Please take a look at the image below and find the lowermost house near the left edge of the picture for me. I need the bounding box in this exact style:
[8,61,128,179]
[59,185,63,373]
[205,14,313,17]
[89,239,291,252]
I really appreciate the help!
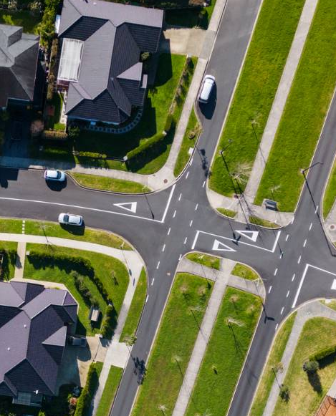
[0,280,79,396]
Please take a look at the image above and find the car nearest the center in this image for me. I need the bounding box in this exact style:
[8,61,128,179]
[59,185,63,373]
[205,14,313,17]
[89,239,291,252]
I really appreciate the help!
[57,214,85,226]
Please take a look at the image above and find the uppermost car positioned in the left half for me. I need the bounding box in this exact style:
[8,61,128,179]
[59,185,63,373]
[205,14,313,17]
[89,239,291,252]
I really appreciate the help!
[42,170,67,182]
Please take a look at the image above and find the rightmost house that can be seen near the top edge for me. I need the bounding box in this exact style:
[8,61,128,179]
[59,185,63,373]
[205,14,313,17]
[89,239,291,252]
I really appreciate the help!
[57,0,165,126]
